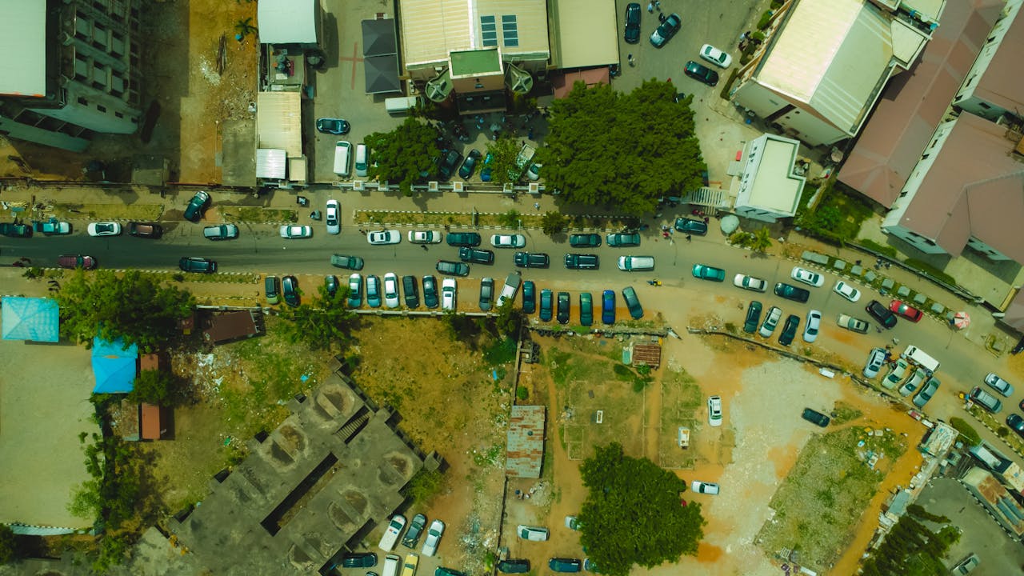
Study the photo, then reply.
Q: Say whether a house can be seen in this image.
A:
Yes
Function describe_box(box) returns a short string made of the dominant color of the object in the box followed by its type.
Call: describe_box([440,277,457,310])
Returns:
white car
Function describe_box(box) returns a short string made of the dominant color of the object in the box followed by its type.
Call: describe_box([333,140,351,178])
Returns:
white vehicle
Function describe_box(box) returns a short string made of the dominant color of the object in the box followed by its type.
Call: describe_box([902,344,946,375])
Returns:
white vehicle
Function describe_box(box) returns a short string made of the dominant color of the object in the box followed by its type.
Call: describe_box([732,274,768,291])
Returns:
white car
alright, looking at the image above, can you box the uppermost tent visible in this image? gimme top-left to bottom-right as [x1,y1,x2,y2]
[362,18,401,60]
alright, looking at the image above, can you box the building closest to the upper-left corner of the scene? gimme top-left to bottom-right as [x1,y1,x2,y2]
[0,0,142,150]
